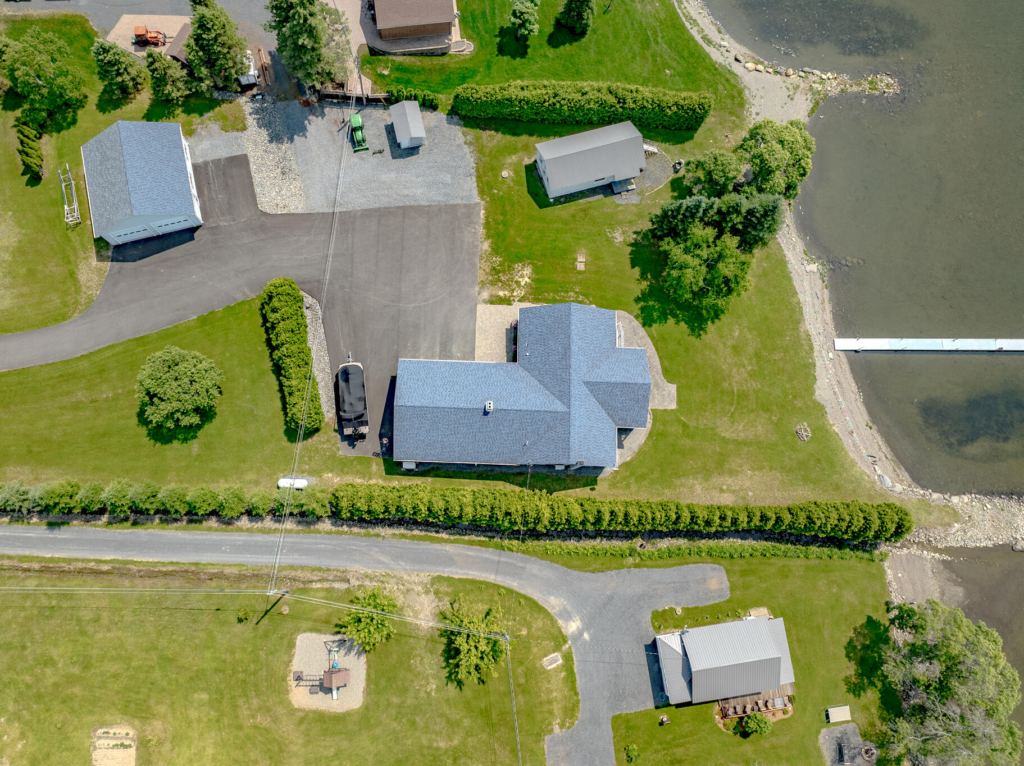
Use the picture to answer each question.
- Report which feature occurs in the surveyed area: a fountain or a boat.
boat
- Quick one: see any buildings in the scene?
Yes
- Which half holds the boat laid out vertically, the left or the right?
left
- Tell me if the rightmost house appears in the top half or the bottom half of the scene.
bottom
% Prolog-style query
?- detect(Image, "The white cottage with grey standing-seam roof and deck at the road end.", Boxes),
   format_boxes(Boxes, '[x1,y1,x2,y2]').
[653,615,795,705]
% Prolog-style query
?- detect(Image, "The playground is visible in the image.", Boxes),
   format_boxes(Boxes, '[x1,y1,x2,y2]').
[289,634,366,712]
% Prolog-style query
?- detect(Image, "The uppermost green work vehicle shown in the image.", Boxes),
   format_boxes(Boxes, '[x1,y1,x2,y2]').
[352,115,367,152]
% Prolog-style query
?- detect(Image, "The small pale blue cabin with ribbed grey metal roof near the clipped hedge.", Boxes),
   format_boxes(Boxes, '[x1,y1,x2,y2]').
[534,120,645,202]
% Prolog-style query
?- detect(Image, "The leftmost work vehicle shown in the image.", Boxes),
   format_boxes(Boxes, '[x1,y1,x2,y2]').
[126,22,173,49]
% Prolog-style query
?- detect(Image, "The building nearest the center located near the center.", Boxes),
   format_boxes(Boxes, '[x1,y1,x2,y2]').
[393,302,651,474]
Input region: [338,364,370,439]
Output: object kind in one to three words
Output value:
boat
